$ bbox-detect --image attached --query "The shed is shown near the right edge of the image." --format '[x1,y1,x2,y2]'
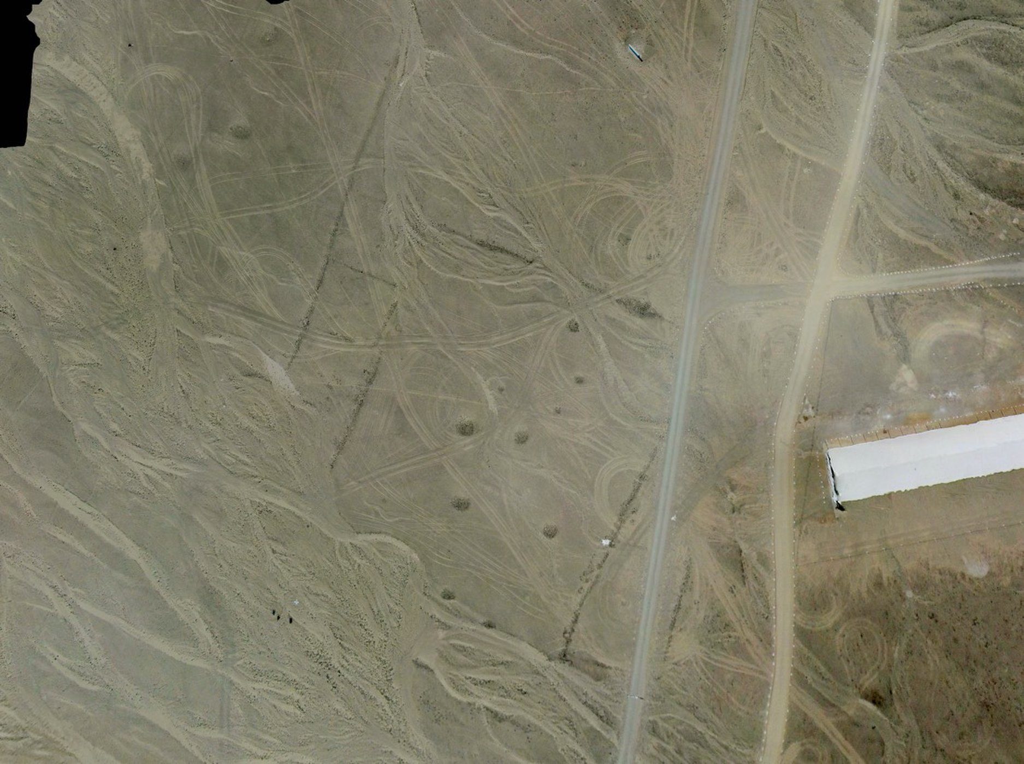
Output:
[823,414,1024,501]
